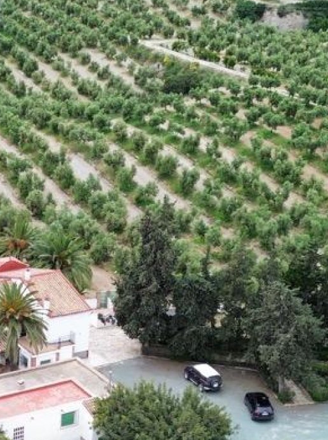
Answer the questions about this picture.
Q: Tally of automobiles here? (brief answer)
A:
2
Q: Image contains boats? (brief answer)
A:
No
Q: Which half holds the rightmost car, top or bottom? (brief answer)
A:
bottom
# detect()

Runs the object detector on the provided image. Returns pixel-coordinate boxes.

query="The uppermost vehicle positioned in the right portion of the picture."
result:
[185,365,225,394]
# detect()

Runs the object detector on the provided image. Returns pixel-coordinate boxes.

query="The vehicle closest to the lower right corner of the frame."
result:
[244,396,273,422]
